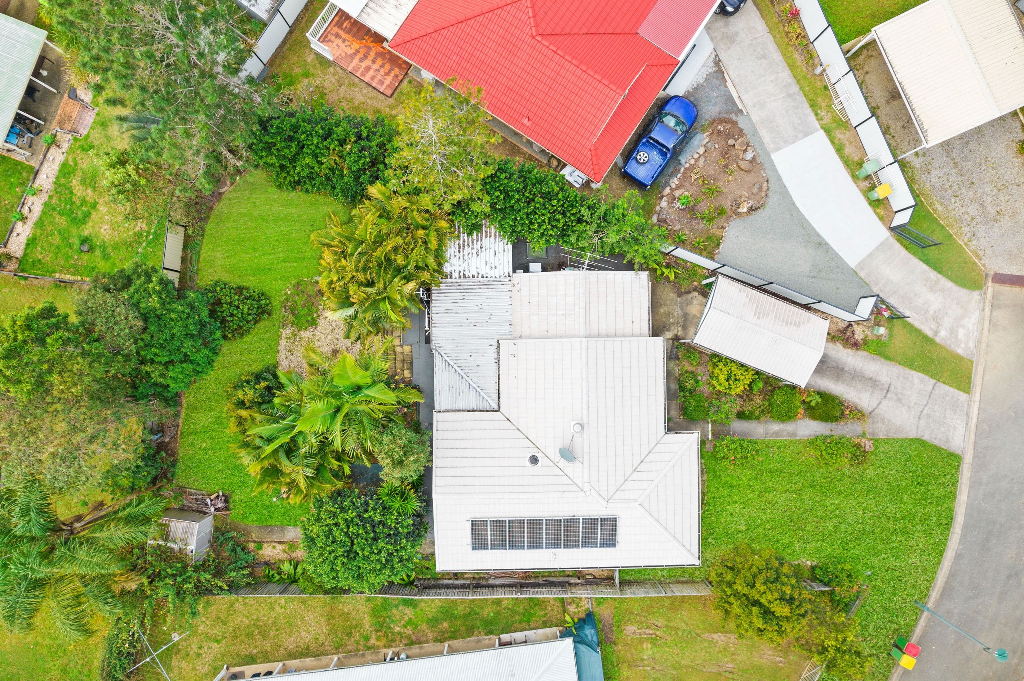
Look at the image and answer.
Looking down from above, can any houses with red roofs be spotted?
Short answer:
Yes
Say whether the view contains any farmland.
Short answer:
No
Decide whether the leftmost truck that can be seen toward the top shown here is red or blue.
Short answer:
blue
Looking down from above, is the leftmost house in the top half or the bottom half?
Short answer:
top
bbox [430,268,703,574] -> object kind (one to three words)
house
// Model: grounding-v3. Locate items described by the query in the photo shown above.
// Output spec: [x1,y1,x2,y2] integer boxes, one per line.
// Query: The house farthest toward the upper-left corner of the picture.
[0,11,65,155]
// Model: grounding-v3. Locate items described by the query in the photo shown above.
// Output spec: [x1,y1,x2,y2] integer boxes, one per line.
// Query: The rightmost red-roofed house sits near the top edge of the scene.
[387,0,681,184]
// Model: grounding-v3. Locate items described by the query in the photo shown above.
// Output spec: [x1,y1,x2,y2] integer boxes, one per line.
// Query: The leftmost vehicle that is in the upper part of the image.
[620,93,697,193]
